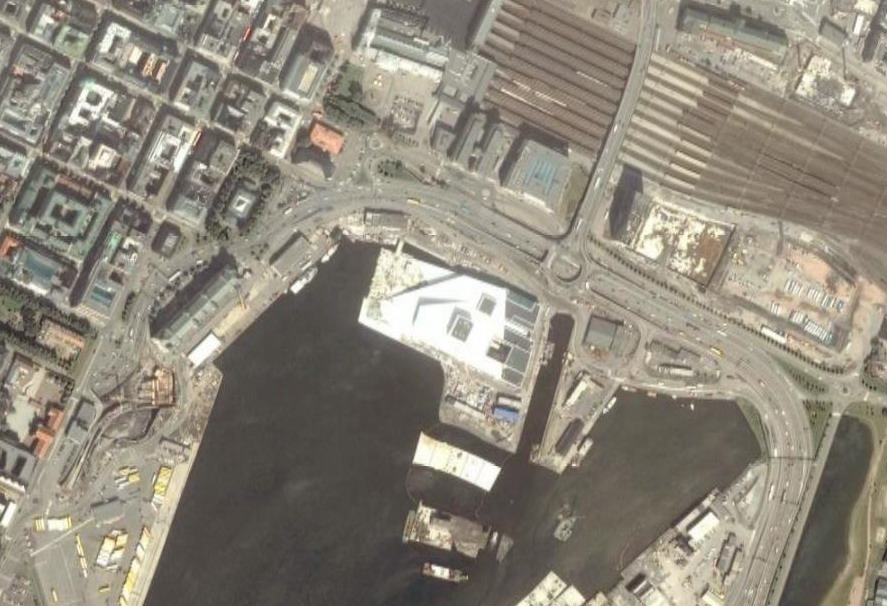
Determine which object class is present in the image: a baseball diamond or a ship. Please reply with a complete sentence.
It is a ship that can be seen here.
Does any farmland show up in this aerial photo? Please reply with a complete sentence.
No, the picture contains no farmland.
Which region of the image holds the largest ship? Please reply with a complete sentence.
The largest ship is in the bottom part of the image.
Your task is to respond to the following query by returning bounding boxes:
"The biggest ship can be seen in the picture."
[403,500,491,558]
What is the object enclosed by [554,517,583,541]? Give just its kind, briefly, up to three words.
boat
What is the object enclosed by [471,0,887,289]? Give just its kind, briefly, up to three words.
train station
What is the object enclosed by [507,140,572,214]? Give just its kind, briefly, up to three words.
building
